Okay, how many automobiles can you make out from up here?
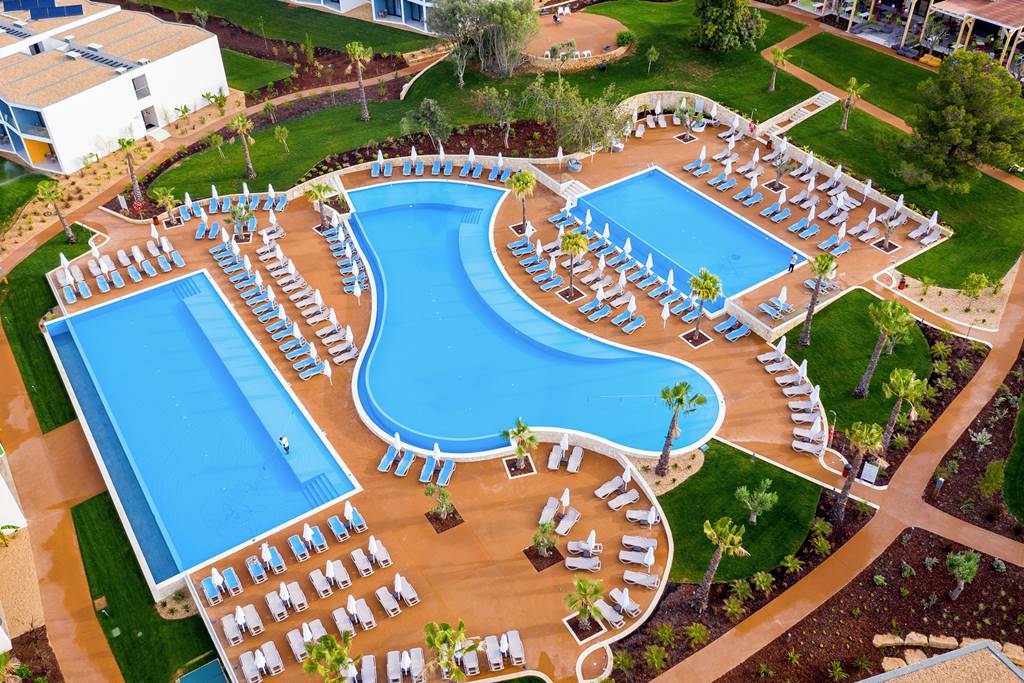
0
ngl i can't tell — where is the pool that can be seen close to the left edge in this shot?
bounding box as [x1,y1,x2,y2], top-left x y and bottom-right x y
[45,269,362,602]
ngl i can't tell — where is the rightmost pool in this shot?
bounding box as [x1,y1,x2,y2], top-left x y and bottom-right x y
[570,163,810,322]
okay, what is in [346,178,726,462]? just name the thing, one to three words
swimming pool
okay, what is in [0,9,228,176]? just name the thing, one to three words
building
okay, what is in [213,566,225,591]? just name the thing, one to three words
umbrella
